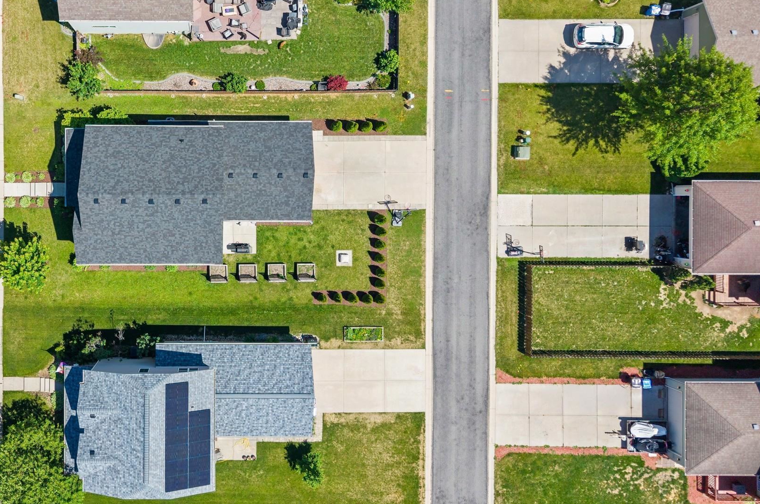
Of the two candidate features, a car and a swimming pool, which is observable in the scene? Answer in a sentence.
Of the two, only a car appears.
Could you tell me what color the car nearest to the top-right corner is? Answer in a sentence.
In this view, the car nearest to the top-right corner is white.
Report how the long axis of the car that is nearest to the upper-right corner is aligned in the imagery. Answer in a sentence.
The car that is nearest to the upper-right corner has been laid out horizontally relative to the frame.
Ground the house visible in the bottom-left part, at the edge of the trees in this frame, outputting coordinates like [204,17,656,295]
[64,316,312,503]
